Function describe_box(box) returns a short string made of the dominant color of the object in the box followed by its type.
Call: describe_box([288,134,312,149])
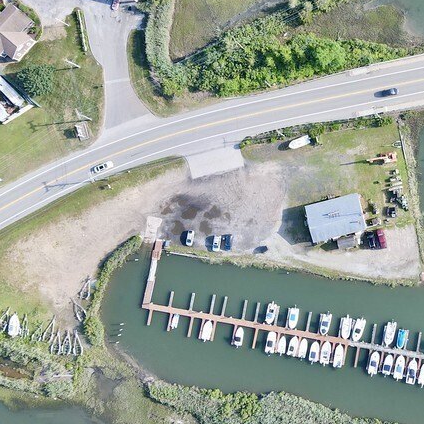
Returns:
white boat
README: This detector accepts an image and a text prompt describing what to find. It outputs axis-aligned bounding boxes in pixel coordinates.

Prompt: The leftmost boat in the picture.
[8,312,20,340]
